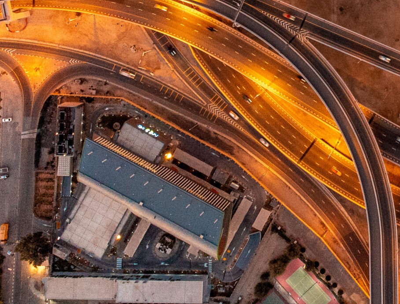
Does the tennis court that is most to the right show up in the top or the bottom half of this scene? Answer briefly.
bottom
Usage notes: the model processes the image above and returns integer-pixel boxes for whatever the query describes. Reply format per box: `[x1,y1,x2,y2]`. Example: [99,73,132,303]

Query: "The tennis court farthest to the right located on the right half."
[274,258,339,304]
